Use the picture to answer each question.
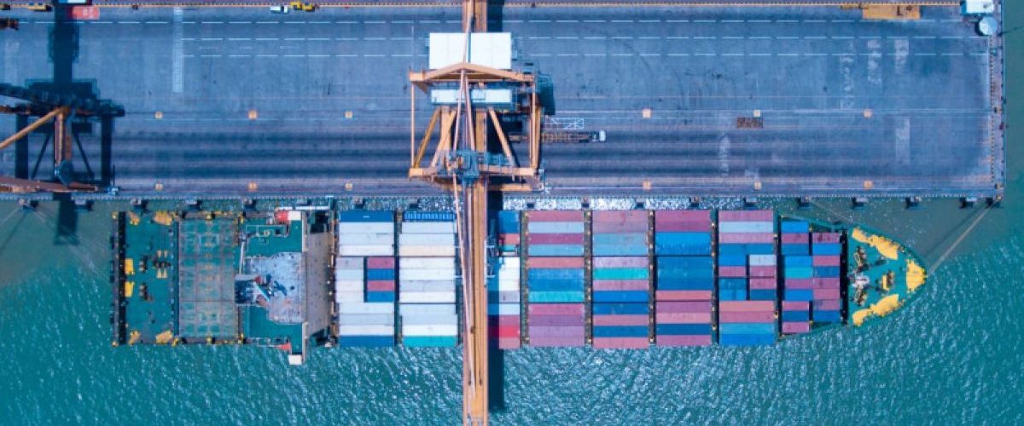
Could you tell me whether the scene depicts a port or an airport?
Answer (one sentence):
This image shows a port.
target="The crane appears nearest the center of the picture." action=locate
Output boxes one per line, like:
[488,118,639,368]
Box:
[406,0,552,426]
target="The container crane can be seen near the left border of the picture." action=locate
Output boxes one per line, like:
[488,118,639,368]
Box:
[0,81,116,194]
